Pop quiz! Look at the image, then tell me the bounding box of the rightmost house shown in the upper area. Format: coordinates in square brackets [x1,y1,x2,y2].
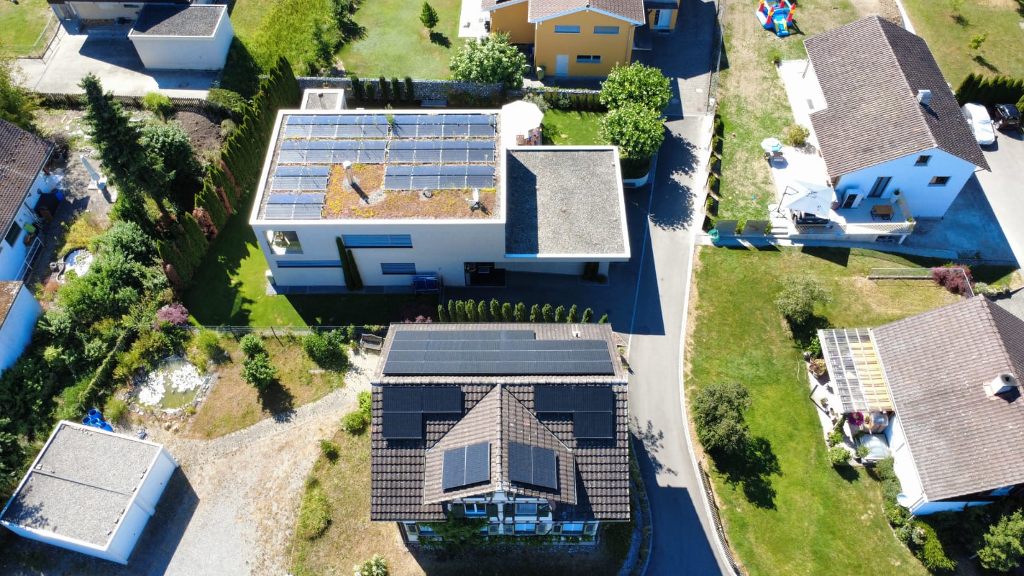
[796,15,992,223]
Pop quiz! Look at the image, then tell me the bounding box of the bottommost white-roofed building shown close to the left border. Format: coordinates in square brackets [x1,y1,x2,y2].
[0,422,180,564]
